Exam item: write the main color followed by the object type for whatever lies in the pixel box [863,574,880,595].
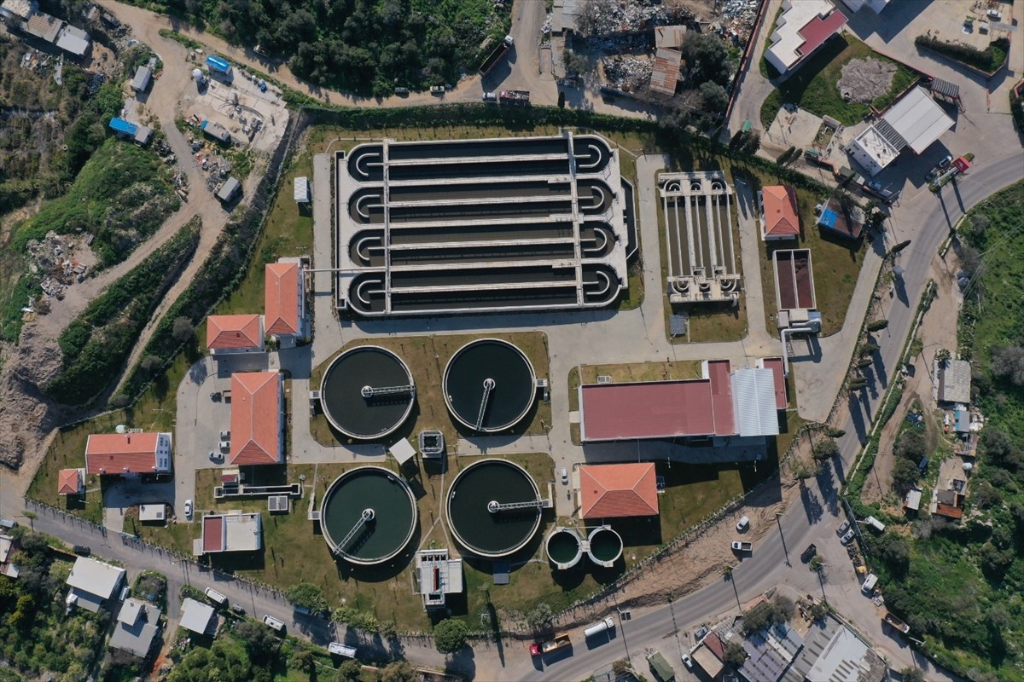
white vehicle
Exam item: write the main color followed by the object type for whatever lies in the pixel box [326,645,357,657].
white vehicle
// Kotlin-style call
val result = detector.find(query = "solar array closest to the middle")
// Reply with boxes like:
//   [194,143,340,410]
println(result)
[670,315,685,334]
